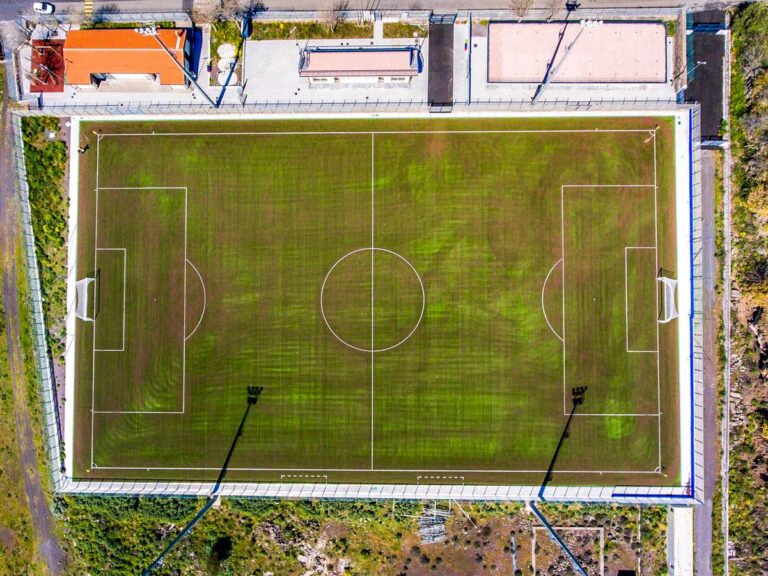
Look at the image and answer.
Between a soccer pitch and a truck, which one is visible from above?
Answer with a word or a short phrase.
soccer pitch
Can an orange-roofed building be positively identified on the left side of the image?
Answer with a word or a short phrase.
Yes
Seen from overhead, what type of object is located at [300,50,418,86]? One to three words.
building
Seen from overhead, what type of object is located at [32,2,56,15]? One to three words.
vehicle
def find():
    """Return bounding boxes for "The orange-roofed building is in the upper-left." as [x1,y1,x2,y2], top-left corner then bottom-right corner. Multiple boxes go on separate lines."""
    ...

[62,28,194,100]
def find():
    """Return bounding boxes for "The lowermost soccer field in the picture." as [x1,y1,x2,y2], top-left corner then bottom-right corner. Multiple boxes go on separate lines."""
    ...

[72,116,681,487]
